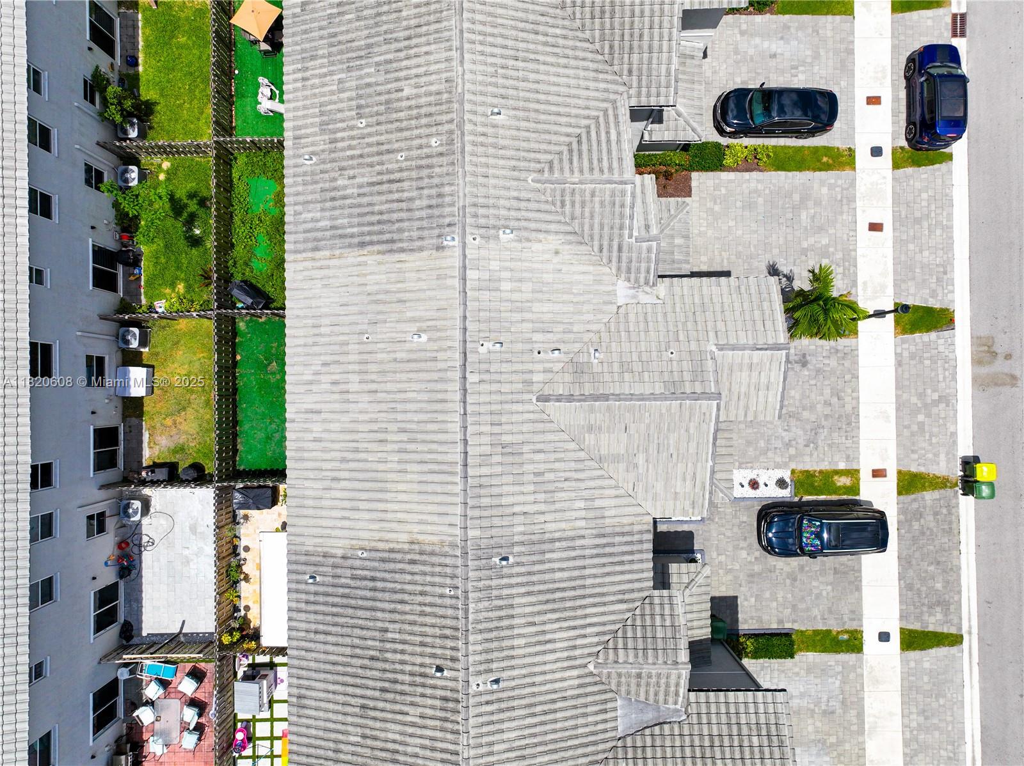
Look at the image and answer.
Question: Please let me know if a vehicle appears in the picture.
Yes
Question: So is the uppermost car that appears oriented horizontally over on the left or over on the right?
right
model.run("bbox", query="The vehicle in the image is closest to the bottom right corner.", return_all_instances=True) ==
[757,500,888,557]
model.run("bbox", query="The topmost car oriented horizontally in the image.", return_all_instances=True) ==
[713,88,837,145]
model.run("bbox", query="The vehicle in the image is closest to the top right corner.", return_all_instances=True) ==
[903,43,969,151]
